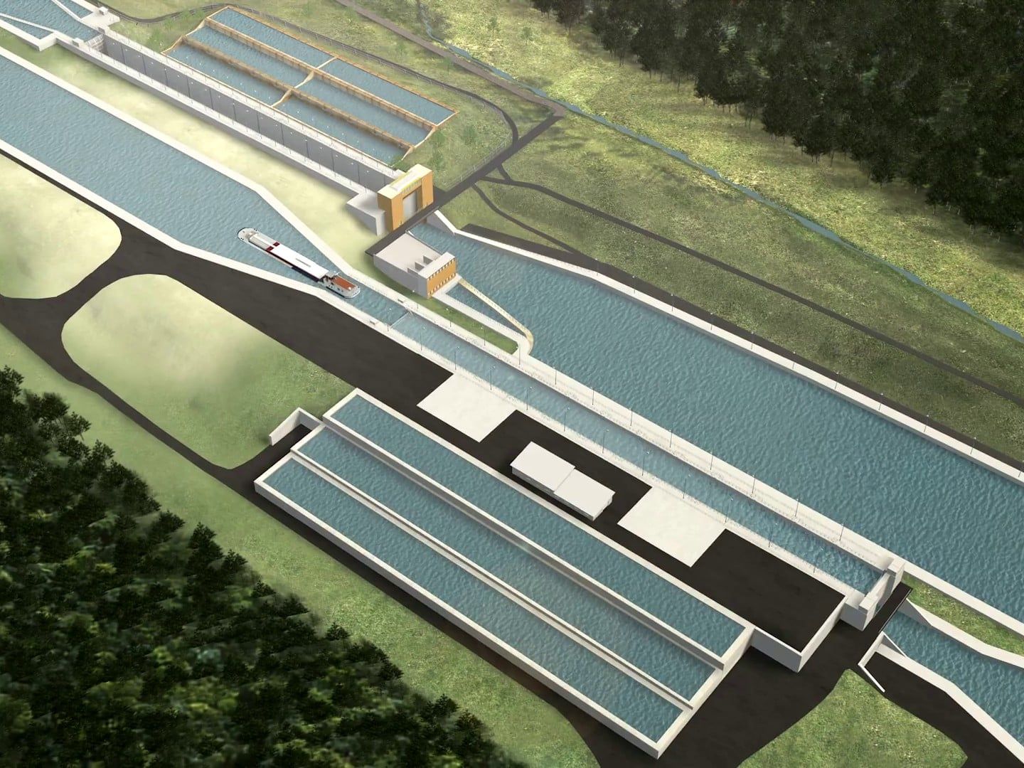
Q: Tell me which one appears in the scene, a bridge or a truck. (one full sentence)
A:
Visible in the photo is a bridge.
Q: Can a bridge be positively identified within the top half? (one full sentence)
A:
Yes, within the top half there is a bridge.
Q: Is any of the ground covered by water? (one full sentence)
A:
Yes, water shows up in the scene.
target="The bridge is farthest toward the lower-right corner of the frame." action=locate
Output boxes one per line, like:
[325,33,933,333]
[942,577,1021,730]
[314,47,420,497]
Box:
[868,581,915,634]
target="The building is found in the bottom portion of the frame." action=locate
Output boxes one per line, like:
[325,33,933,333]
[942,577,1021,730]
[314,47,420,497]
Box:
[508,441,616,519]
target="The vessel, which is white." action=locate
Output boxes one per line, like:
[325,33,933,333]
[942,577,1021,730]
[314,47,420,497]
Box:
[239,229,360,302]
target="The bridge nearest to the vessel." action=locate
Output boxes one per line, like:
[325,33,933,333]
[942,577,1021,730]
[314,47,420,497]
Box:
[365,201,445,263]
